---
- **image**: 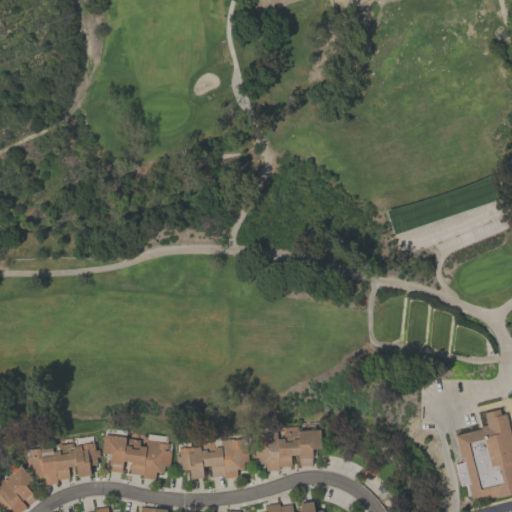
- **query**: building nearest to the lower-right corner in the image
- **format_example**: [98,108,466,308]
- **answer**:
[458,409,512,498]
